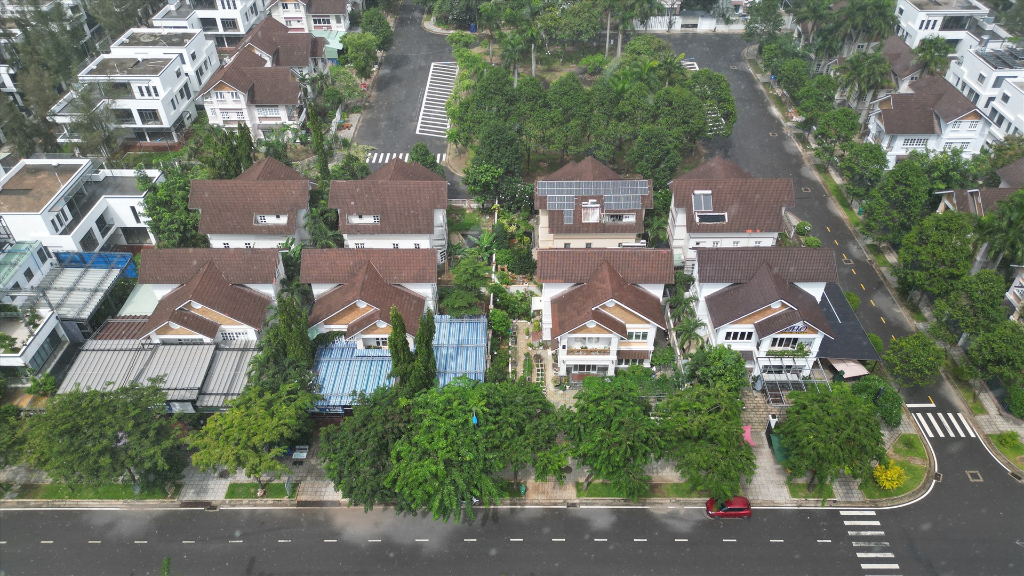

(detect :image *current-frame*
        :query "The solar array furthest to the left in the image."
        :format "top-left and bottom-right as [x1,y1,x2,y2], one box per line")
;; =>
[536,180,651,223]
